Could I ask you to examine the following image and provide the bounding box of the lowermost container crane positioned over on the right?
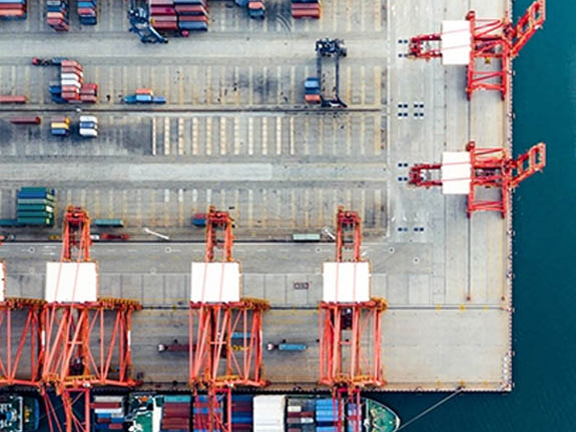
[317,201,391,432]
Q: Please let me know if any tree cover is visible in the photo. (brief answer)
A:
No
